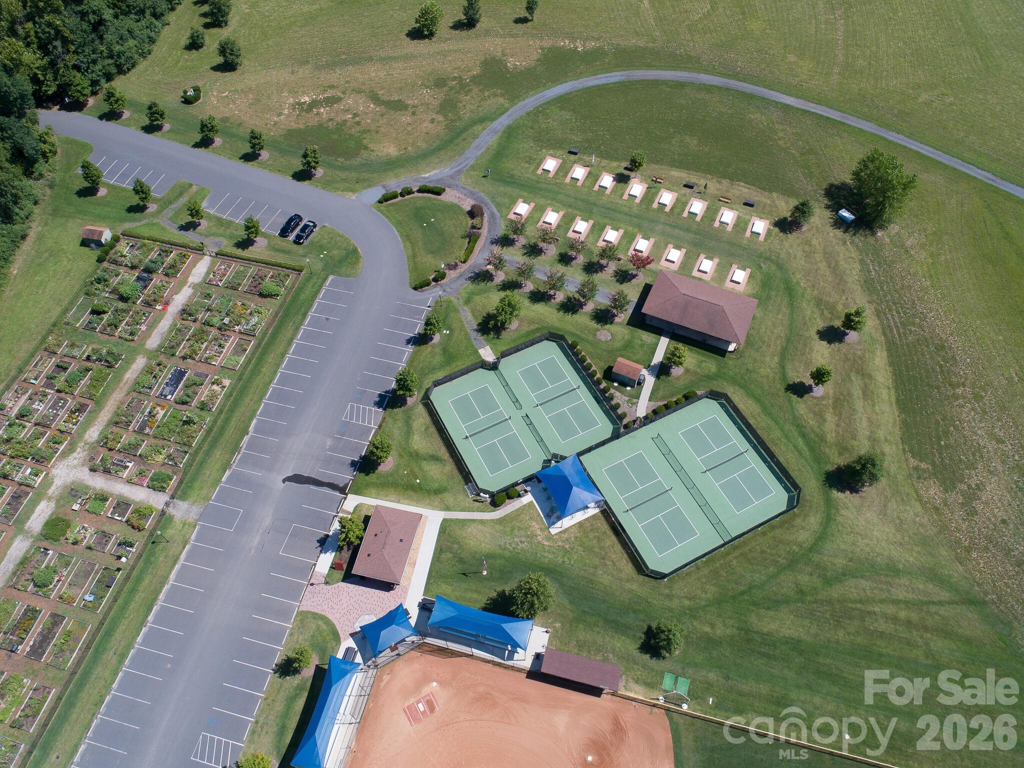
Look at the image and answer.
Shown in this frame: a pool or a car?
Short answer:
car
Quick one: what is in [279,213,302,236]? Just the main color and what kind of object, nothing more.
black car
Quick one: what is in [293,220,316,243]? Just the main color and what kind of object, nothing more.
black car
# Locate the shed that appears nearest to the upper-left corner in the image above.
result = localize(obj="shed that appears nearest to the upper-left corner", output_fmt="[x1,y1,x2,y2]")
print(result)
[77,225,109,248]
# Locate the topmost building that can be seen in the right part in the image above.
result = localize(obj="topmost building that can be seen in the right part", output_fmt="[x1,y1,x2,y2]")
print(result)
[642,269,758,354]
